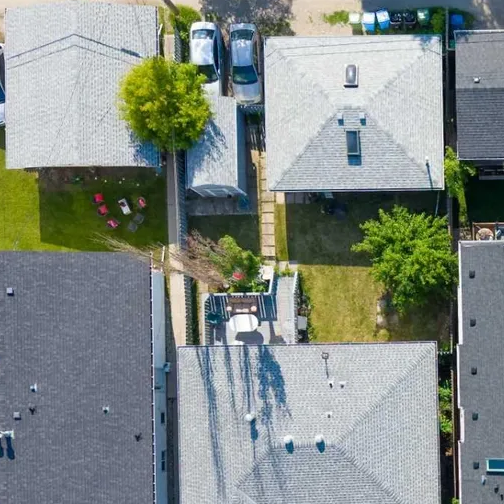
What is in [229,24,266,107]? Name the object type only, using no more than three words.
car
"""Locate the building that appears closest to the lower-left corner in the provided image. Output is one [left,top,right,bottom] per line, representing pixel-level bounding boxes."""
[0,249,175,504]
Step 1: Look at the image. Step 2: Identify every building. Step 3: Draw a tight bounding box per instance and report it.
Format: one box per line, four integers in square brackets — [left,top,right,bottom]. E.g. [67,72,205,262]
[457,239,504,504]
[4,1,169,170]
[0,249,175,504]
[454,29,504,166]
[186,95,249,193]
[178,342,441,504]
[263,33,446,194]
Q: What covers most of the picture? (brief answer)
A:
buildings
